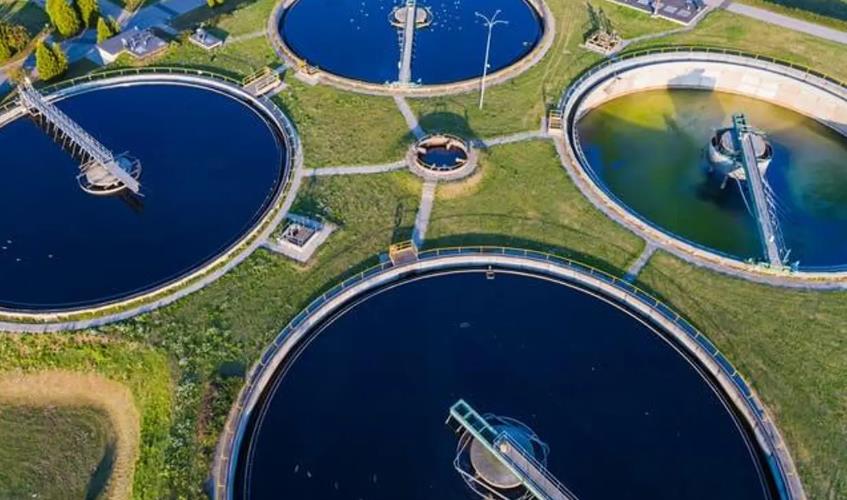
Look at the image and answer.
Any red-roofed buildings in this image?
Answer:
No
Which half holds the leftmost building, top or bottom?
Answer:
top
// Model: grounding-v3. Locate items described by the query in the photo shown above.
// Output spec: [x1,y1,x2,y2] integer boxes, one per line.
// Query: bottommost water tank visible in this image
[217,243,800,500]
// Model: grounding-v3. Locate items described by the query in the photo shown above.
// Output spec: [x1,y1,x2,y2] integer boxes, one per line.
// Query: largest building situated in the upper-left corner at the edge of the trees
[96,26,173,66]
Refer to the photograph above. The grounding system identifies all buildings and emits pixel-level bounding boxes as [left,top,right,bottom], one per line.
[189,31,225,54]
[96,26,173,66]
[603,0,709,26]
